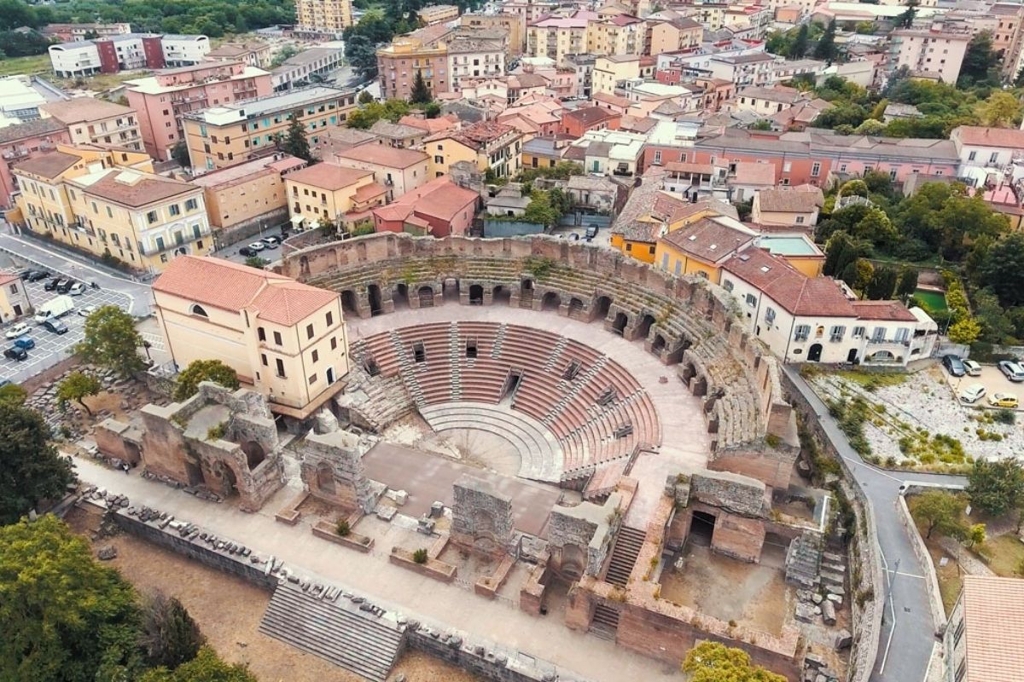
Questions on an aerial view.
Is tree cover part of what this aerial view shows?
Yes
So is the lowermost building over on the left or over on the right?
right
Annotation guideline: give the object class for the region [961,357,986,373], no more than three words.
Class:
car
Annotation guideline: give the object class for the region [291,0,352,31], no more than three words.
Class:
building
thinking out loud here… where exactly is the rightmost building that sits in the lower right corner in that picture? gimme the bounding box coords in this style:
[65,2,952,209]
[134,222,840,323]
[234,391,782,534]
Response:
[933,572,1024,682]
